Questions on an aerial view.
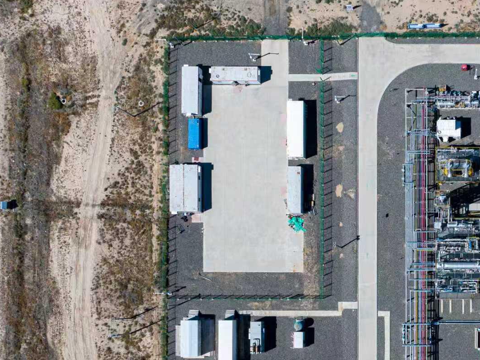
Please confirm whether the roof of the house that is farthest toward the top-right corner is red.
No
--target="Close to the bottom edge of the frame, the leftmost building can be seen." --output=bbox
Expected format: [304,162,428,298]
[175,310,213,360]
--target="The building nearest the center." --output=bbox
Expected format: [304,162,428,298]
[170,165,202,214]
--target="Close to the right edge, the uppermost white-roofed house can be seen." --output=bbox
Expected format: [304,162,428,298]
[437,117,462,144]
